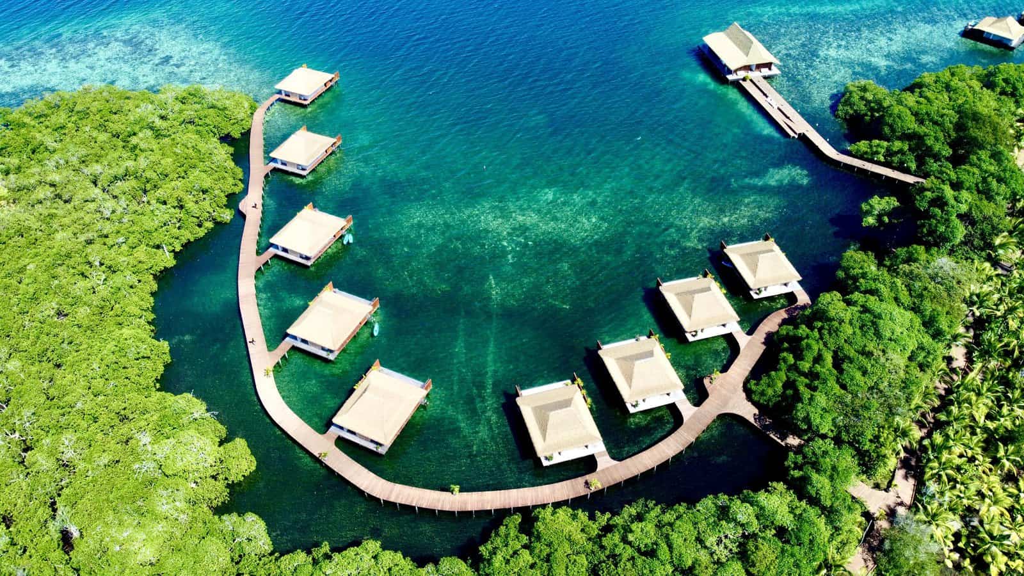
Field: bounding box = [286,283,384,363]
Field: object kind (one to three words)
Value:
house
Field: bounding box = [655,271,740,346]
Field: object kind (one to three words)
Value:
house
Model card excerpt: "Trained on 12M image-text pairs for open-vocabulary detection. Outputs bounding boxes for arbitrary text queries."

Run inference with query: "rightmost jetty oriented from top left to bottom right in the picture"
[740,75,925,190]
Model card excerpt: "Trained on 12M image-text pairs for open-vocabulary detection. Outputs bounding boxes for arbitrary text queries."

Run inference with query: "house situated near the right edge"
[963,15,1024,52]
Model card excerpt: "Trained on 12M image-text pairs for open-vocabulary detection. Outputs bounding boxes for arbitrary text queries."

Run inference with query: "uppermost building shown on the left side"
[276,65,342,108]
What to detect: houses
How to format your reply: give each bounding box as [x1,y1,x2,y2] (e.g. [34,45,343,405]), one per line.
[270,126,346,178]
[963,15,1024,52]
[330,359,438,456]
[269,203,357,269]
[276,65,342,108]
[286,283,384,363]
[655,271,740,346]
[596,330,685,417]
[719,236,801,304]
[513,373,604,470]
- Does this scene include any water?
Yes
